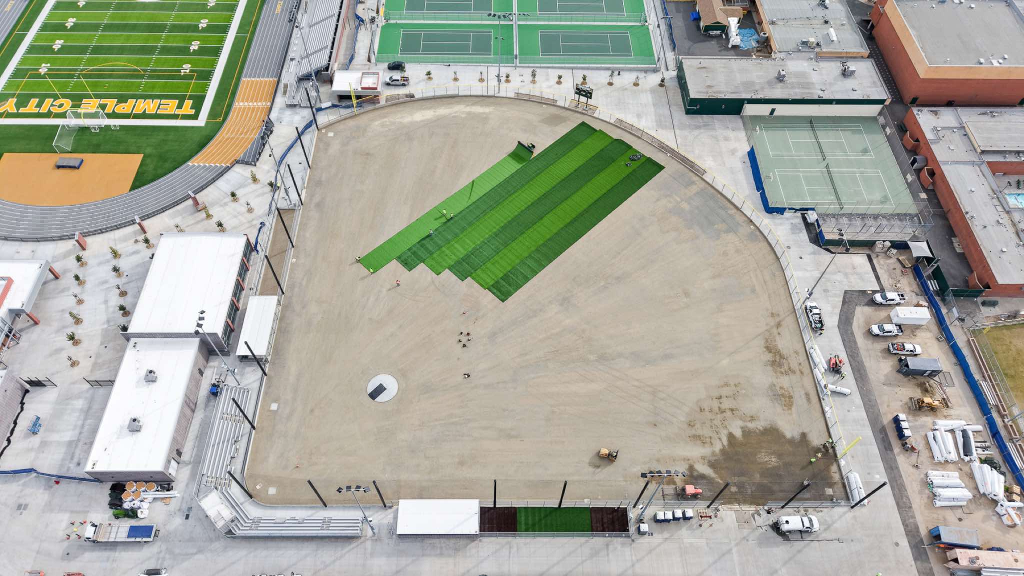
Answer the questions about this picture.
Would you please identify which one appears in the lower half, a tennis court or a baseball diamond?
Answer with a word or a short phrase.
baseball diamond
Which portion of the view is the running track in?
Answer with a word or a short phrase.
top left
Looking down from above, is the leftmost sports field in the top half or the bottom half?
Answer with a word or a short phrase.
top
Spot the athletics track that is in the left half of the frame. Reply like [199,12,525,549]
[0,0,301,238]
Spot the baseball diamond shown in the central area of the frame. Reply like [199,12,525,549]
[246,94,855,506]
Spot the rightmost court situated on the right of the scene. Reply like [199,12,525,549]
[742,115,922,215]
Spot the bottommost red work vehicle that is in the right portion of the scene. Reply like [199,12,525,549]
[684,485,706,500]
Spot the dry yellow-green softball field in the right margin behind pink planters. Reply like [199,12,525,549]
[970,325,1024,443]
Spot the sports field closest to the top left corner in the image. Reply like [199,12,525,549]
[0,0,268,205]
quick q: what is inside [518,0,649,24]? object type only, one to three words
tennis court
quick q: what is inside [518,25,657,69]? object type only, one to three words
tennis court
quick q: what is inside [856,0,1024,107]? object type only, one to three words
building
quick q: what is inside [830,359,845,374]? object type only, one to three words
work vehicle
